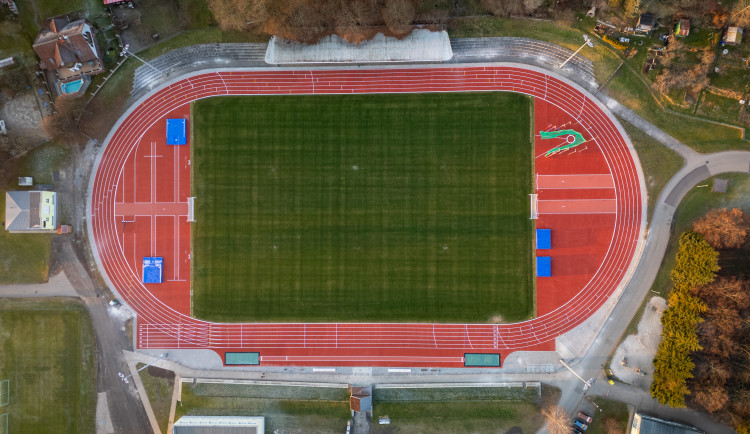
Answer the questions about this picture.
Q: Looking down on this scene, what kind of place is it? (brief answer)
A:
sports ground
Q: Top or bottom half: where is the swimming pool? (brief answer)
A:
top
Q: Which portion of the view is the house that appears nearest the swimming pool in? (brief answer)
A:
top left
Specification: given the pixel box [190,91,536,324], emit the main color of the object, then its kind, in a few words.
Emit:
green soccer field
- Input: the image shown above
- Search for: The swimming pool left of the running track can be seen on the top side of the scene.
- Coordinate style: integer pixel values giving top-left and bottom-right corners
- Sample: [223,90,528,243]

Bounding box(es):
[55,77,91,100]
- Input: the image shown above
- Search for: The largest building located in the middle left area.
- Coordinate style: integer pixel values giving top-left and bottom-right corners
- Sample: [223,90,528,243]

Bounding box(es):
[4,191,58,232]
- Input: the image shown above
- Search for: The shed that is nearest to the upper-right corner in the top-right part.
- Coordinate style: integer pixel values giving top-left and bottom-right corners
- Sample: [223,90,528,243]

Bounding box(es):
[721,28,742,47]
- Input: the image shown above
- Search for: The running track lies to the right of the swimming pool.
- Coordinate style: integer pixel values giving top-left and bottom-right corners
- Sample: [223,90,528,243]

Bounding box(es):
[92,67,641,367]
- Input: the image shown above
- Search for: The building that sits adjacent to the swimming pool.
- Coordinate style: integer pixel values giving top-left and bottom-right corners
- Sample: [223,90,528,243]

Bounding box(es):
[33,18,106,81]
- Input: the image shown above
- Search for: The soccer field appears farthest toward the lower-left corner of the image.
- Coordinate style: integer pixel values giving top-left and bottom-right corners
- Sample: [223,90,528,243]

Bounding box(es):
[0,310,82,434]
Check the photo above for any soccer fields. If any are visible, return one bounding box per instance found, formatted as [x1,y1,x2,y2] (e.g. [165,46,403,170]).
[0,310,82,434]
[190,91,536,324]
